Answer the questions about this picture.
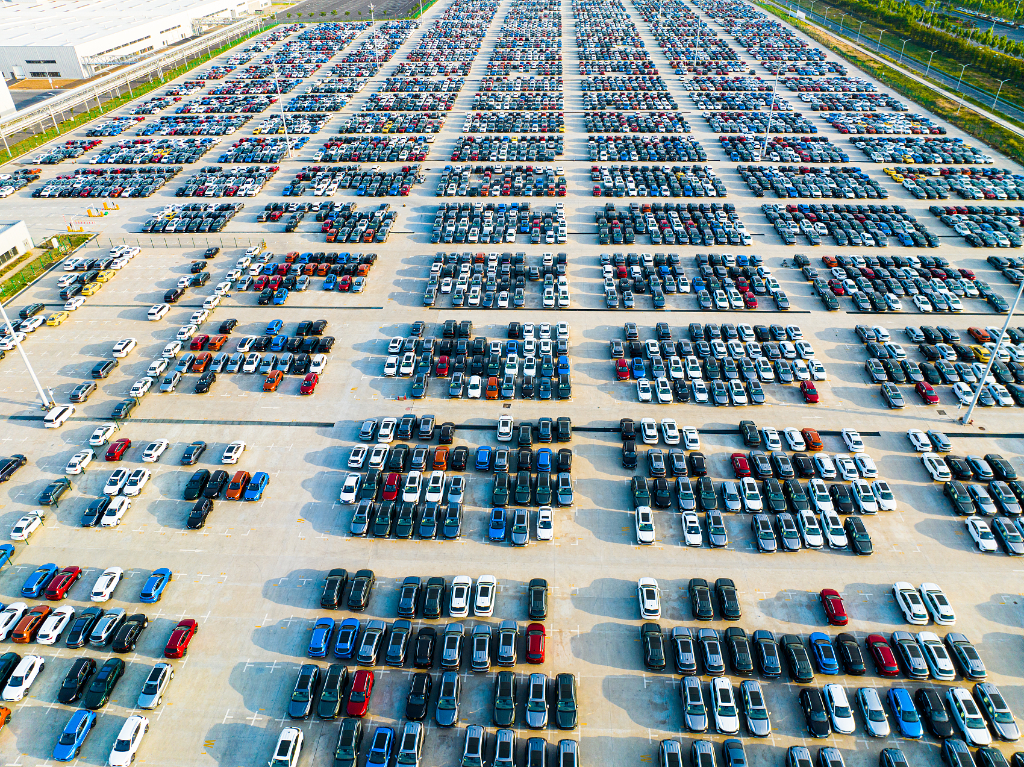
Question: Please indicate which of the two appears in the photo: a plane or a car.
car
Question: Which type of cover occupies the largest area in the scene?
paved ground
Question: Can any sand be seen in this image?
No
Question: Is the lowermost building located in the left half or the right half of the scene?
left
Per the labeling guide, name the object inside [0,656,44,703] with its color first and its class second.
white car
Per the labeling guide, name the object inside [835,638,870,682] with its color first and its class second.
black car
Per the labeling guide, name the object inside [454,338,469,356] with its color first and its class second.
blue car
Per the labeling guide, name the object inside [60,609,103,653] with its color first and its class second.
blue car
